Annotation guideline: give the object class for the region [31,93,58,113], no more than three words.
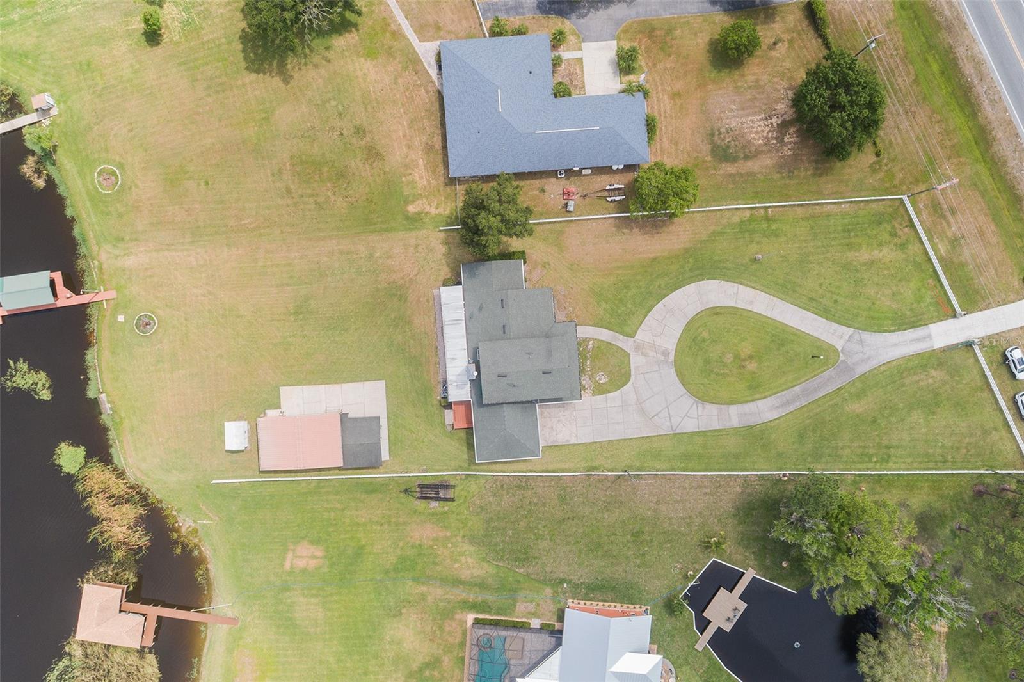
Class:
shed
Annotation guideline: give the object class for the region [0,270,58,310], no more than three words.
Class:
building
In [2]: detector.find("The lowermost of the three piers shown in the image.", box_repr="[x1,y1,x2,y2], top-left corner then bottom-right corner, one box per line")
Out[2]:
[100,582,238,647]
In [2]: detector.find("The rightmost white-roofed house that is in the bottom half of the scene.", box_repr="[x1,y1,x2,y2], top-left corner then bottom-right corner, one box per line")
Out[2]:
[515,607,662,682]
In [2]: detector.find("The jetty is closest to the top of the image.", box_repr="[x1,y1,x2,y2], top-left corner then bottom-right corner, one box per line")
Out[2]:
[0,110,58,136]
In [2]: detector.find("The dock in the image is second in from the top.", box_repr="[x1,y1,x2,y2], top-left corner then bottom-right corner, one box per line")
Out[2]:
[0,271,117,325]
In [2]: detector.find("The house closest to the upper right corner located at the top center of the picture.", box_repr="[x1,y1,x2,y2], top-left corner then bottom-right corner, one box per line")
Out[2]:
[439,33,650,178]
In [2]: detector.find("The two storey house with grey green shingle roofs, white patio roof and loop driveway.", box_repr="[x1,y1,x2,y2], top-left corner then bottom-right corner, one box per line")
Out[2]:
[439,260,581,463]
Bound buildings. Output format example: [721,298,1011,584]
[439,33,650,178]
[257,413,383,472]
[76,583,148,649]
[225,420,253,451]
[0,270,58,310]
[439,260,581,463]
[515,607,662,682]
[31,93,58,113]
